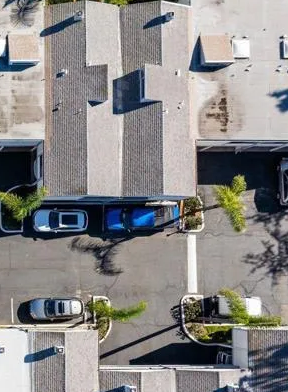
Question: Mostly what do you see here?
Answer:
buildings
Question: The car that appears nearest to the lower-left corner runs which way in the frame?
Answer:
from side to side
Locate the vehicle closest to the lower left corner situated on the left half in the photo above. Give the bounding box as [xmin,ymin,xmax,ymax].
[25,296,85,322]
